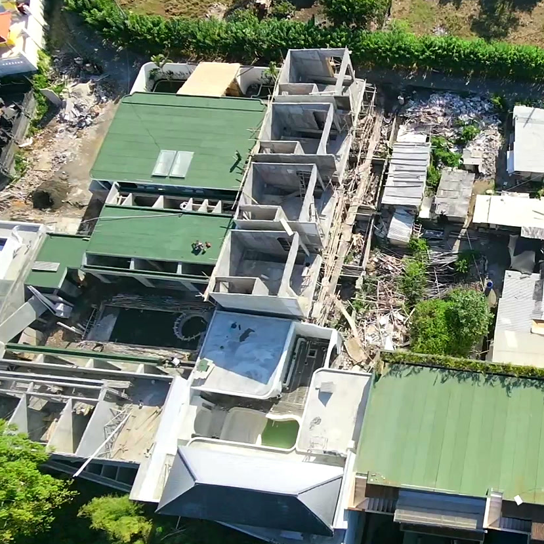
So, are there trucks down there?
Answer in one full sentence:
No, the photo shows no truck.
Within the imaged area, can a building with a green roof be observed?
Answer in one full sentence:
Yes, a building with a green roof appears in the view.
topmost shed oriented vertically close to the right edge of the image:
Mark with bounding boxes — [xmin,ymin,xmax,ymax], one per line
[512,107,544,183]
